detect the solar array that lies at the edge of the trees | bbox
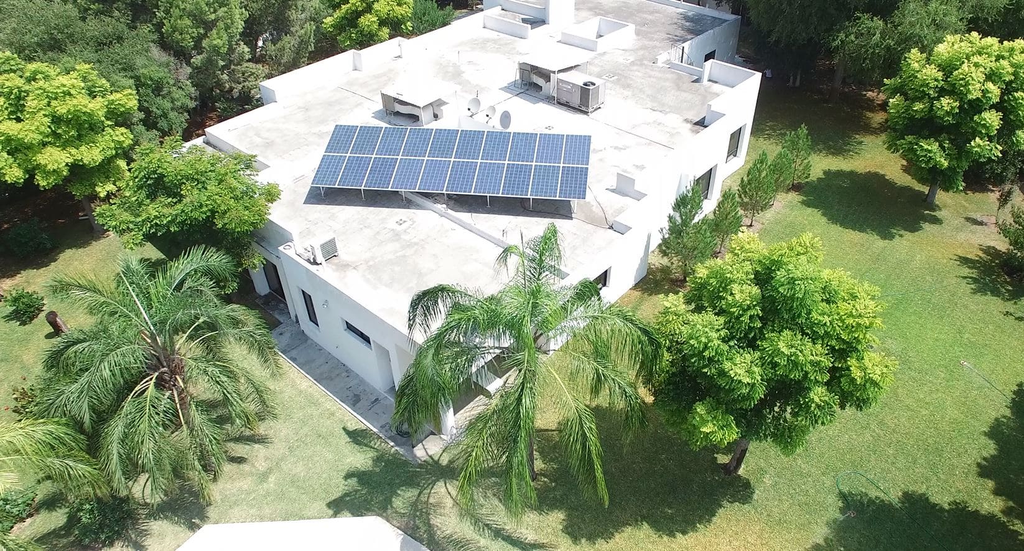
[312,125,592,213]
